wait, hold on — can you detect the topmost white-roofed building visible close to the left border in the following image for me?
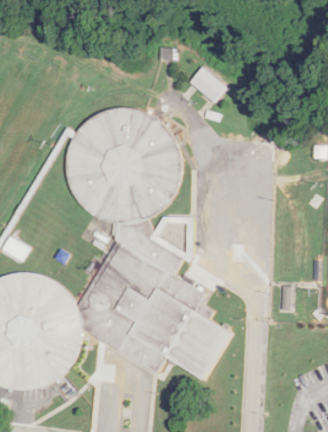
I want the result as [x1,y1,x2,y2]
[2,236,31,262]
